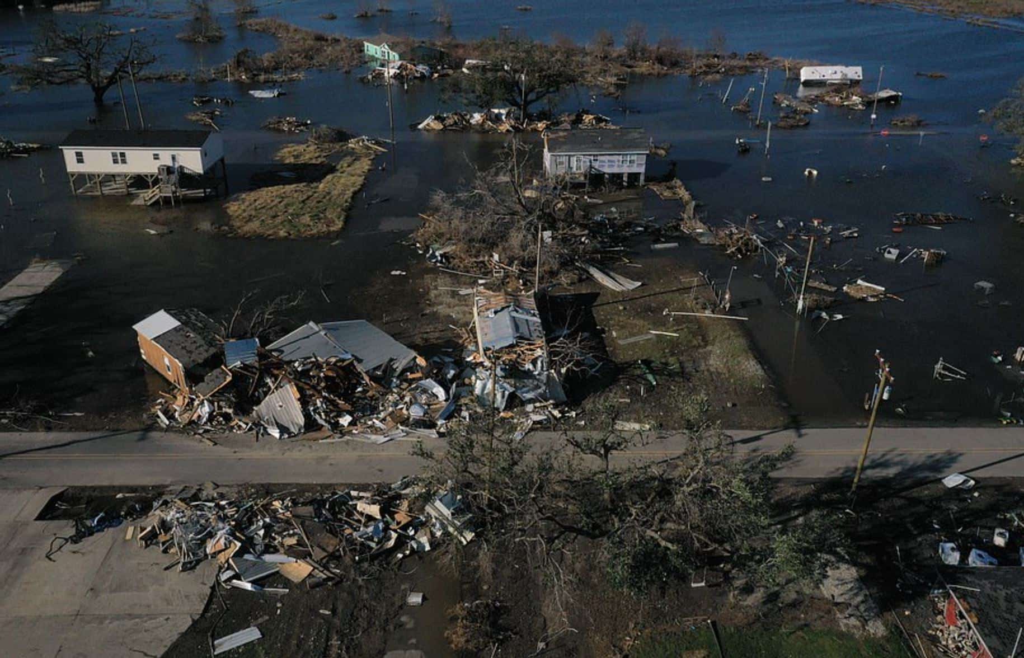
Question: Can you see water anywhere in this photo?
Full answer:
Yes, the picture does contain water.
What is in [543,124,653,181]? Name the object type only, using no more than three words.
house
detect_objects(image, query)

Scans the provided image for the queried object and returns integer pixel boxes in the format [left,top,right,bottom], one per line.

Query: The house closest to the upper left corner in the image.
[57,128,221,199]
